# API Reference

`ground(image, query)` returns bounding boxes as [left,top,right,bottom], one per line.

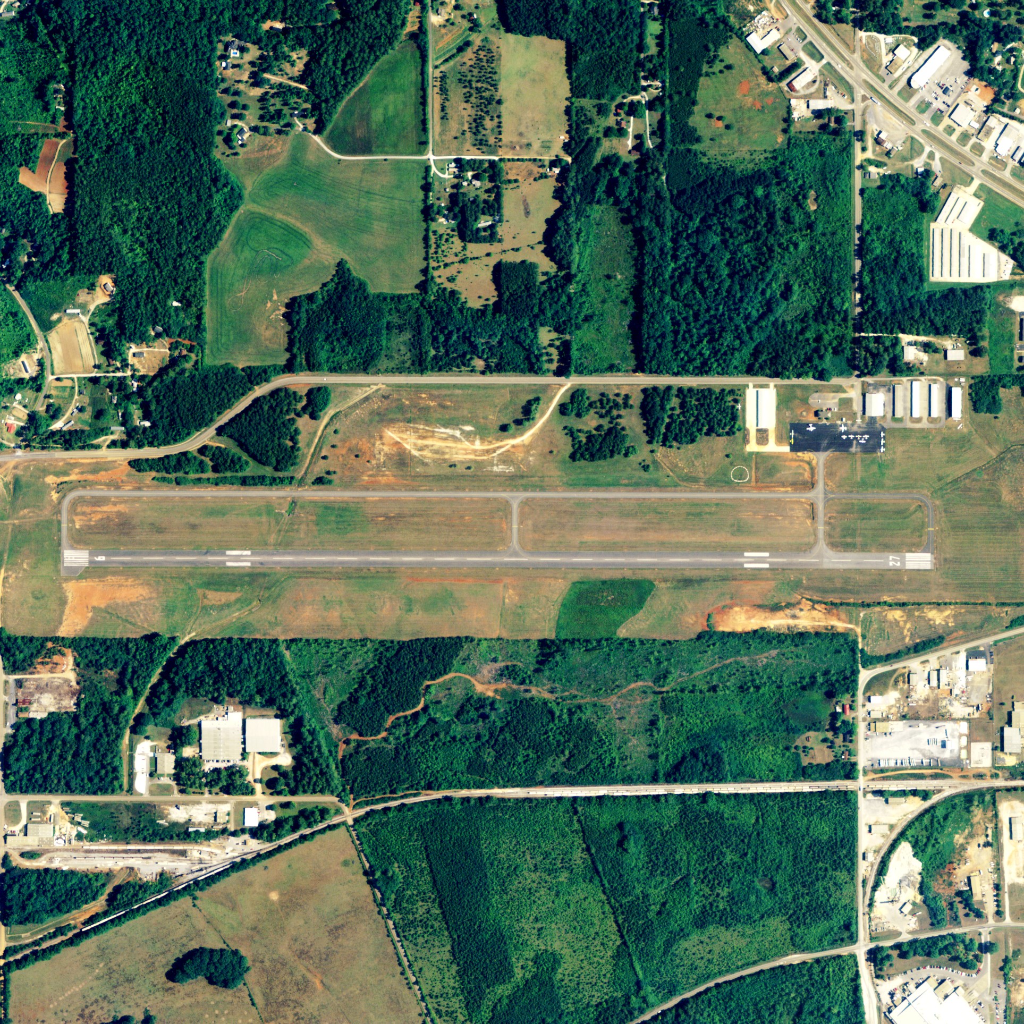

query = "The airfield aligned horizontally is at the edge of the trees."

[61,416,934,576]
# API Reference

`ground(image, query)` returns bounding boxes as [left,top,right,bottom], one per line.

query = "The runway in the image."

[61,550,934,576]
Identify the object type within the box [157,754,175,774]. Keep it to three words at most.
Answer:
building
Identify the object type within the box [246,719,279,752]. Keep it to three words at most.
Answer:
building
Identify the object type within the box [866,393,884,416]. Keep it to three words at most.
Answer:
hangar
